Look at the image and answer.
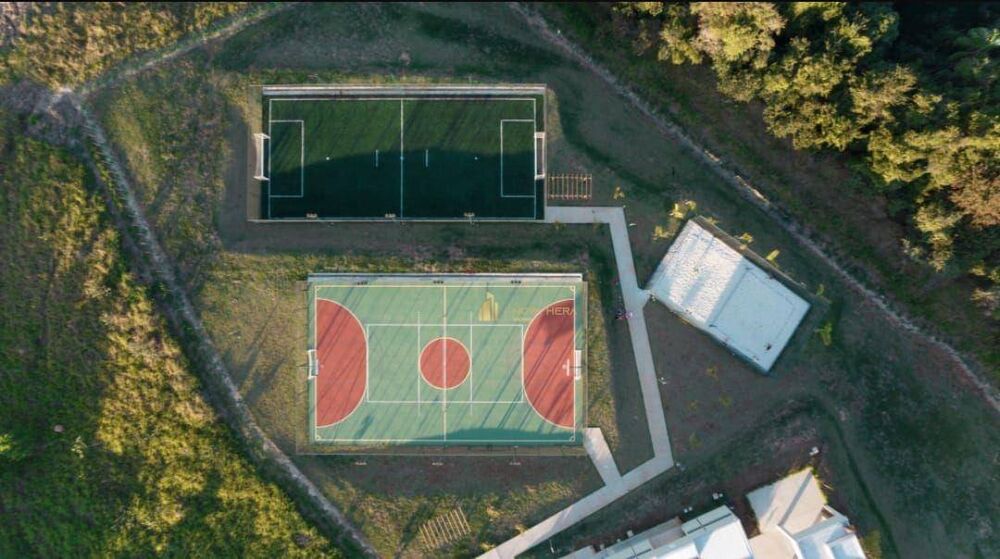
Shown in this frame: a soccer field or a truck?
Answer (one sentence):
Of the two, only a soccer field appears.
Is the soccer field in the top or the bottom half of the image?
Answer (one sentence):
You can find the soccer field in the top half.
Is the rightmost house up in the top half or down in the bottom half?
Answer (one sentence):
The bottom half of the photo is where the rightmost house is.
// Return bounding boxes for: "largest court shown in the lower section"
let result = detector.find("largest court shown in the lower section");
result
[307,282,588,452]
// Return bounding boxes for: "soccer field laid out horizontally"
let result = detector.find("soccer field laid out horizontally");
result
[250,95,546,222]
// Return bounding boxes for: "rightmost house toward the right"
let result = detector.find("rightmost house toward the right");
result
[771,504,863,559]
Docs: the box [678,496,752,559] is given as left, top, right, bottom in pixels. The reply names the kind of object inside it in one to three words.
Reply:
house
